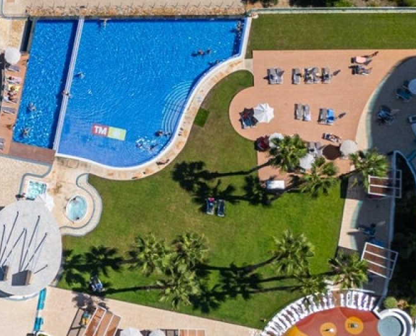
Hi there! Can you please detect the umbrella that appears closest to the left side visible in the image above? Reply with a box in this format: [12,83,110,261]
[3,48,21,65]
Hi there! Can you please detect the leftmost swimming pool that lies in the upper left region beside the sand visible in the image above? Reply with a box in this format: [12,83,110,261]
[12,21,79,148]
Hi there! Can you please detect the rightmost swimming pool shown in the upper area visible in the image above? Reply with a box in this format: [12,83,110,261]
[59,21,243,166]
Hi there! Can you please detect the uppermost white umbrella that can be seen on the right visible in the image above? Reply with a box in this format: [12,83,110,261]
[253,103,273,123]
